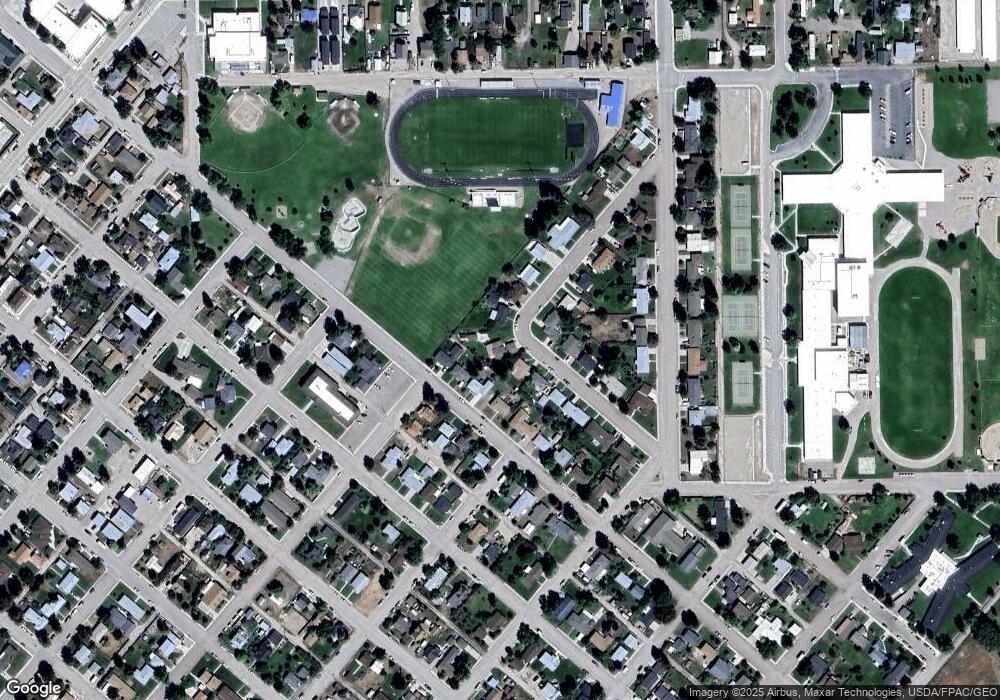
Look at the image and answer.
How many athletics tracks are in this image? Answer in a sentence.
In total, there are 2 athletics tracks in the scene.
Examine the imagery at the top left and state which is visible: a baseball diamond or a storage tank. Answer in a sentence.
You can see a baseball diamond at the top left.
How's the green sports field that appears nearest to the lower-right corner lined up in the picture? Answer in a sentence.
In this picture, the green sports field that appears nearest to the lower-right corner lies vertically.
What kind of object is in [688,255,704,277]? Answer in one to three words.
house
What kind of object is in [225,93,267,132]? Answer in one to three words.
baseball field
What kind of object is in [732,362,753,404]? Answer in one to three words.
tennis court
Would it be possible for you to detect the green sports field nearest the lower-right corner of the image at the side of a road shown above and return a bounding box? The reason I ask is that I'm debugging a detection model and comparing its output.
[879,268,952,459]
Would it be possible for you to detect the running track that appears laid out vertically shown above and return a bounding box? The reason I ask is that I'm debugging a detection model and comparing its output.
[871,260,963,466]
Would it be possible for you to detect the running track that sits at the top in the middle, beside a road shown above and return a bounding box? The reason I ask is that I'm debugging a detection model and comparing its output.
[389,86,600,185]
